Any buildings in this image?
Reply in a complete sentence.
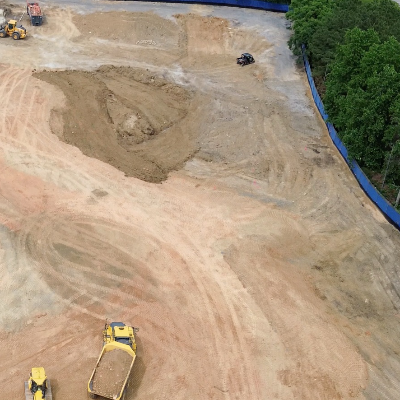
No, no building is visible in the view.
